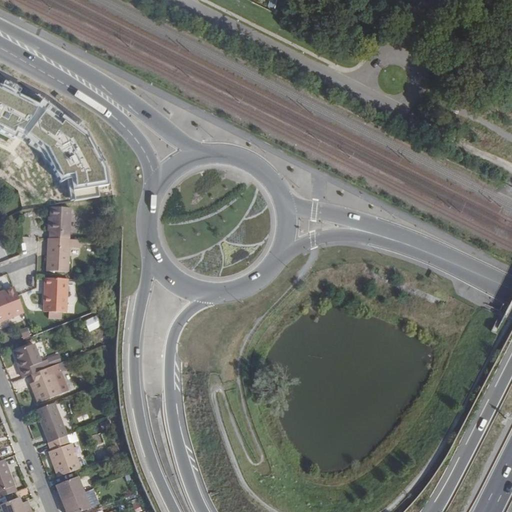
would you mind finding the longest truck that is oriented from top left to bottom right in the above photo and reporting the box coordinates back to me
[73,88,110,116]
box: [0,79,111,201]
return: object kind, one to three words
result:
building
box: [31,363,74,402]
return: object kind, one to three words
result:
house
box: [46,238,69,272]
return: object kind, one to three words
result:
house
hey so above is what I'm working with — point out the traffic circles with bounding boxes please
[137,143,296,303]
